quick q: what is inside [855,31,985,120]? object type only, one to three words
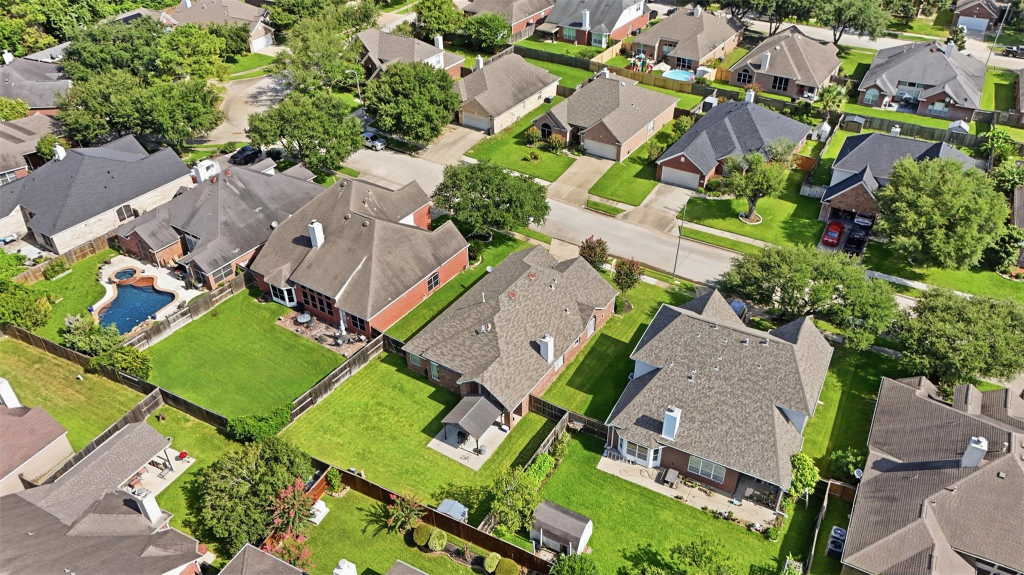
house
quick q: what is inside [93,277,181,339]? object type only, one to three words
swimming pool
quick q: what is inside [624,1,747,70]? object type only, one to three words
house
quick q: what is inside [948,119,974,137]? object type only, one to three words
shed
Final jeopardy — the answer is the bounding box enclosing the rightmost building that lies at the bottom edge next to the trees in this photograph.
[839,375,1024,575]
